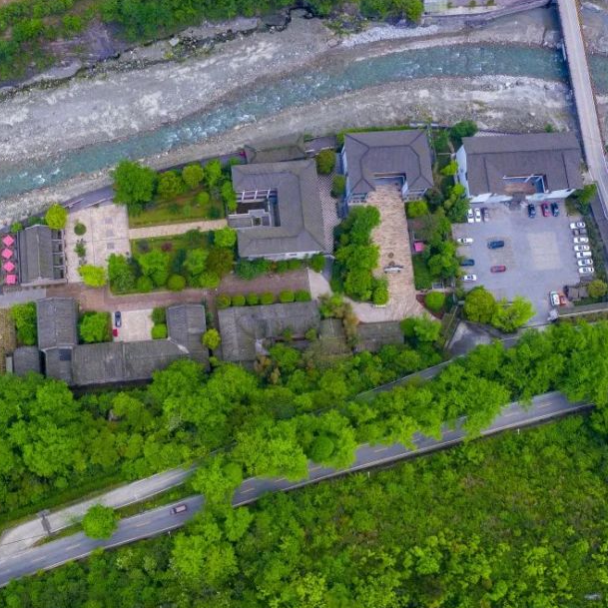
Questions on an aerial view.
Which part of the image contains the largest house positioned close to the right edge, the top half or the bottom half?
top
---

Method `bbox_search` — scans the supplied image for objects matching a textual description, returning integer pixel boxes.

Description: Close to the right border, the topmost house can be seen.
[453,132,585,208]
